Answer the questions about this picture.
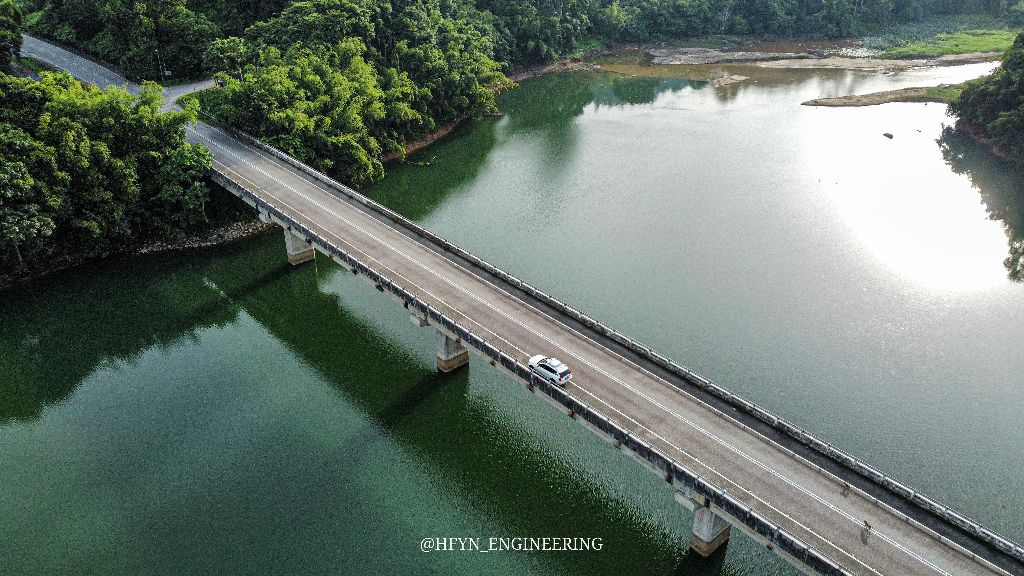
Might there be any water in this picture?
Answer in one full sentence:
Yes, there is water in the image.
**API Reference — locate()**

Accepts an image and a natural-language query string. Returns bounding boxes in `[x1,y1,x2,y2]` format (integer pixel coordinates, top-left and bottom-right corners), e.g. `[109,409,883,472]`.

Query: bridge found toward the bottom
[174,124,1024,576]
